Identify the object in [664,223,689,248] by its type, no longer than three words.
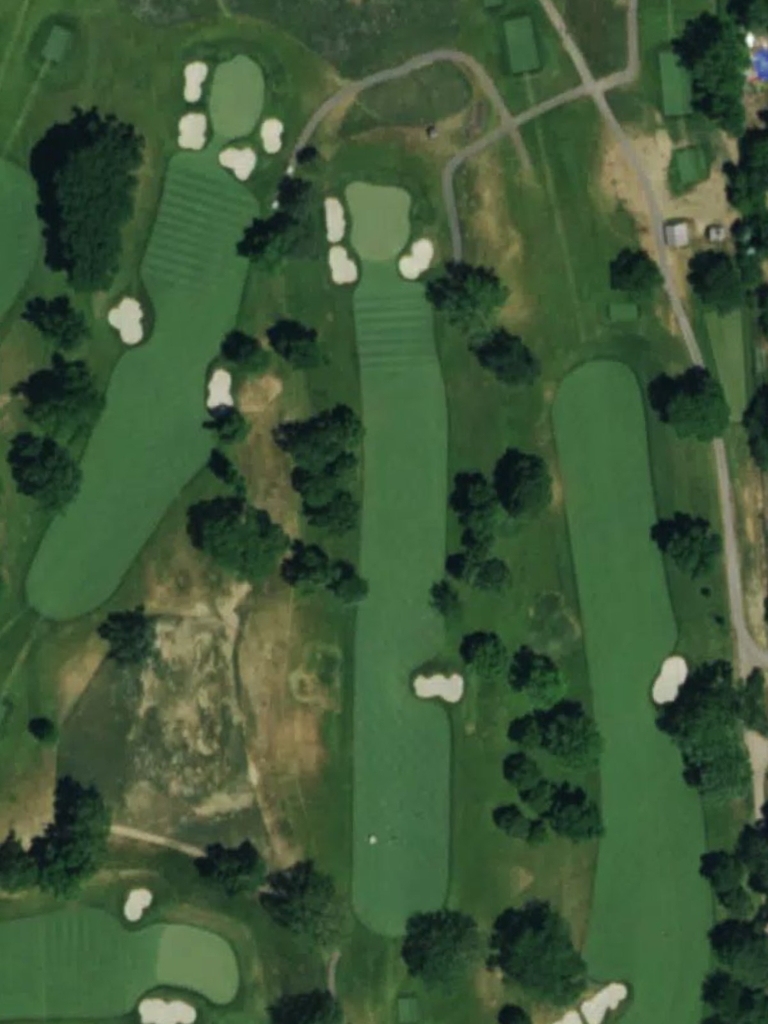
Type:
shed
